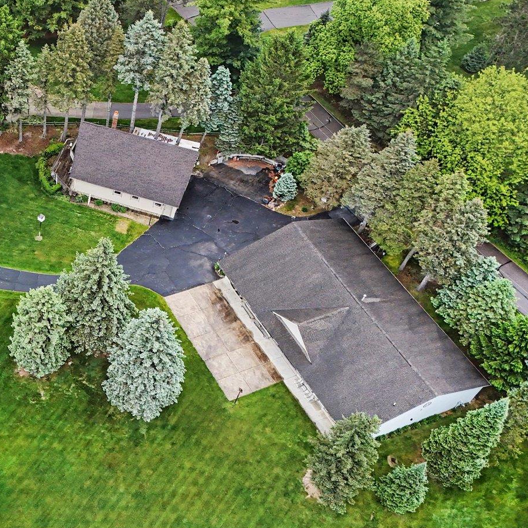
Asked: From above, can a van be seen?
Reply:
No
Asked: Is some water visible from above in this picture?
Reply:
No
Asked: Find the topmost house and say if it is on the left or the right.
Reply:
left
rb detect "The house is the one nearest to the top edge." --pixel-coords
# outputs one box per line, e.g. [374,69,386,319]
[70,99,198,222]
